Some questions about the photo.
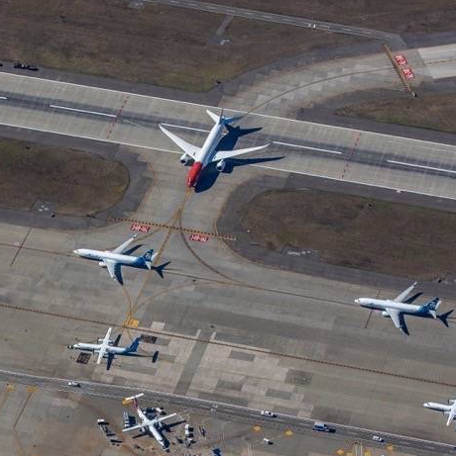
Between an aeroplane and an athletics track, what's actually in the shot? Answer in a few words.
aeroplane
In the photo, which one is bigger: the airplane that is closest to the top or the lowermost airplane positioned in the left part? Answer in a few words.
the airplane that is closest to the top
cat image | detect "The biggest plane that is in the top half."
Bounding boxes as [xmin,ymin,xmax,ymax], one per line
[157,97,267,186]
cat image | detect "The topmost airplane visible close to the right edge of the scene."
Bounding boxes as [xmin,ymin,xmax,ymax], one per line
[356,283,439,328]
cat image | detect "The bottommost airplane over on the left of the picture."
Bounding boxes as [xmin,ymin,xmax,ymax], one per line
[125,398,182,450]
